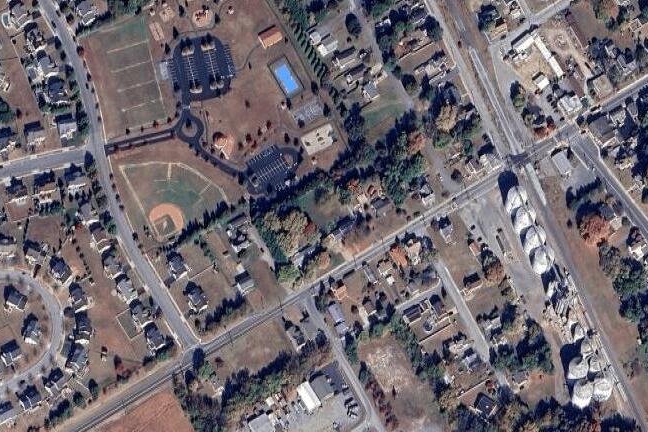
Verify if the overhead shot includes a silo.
Yes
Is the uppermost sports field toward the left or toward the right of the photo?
left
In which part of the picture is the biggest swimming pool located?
top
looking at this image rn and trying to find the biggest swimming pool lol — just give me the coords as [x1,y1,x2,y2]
[268,55,304,95]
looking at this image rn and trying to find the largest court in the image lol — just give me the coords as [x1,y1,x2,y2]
[302,123,339,155]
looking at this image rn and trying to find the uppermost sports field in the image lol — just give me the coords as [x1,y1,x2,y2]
[83,15,169,138]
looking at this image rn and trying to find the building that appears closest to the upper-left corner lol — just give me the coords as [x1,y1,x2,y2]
[8,0,33,23]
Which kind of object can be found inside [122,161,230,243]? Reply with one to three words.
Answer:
baseball field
